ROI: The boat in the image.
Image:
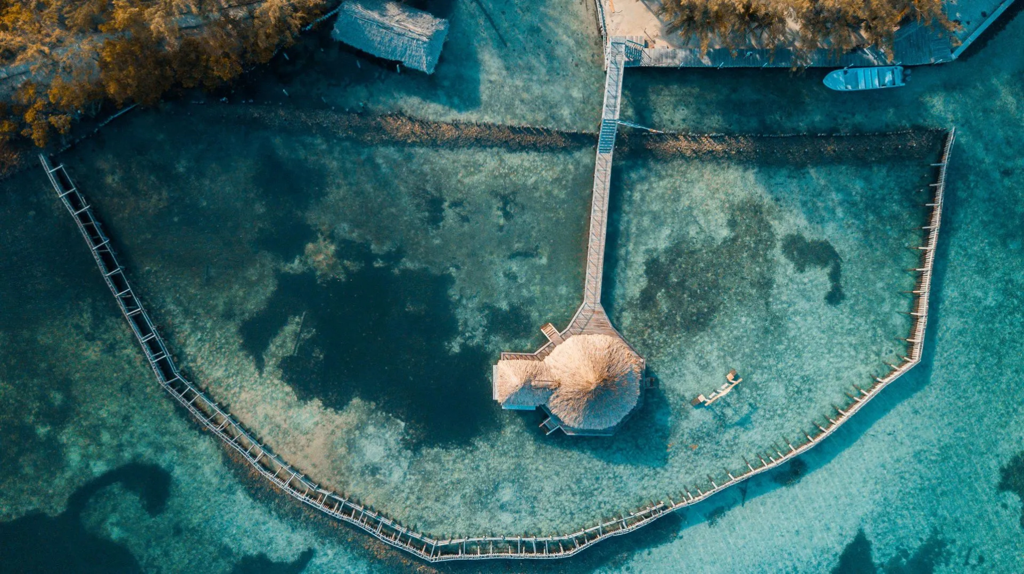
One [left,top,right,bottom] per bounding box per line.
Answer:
[824,65,911,90]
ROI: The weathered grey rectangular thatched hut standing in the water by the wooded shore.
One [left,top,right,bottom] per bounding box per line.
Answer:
[329,0,451,78]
